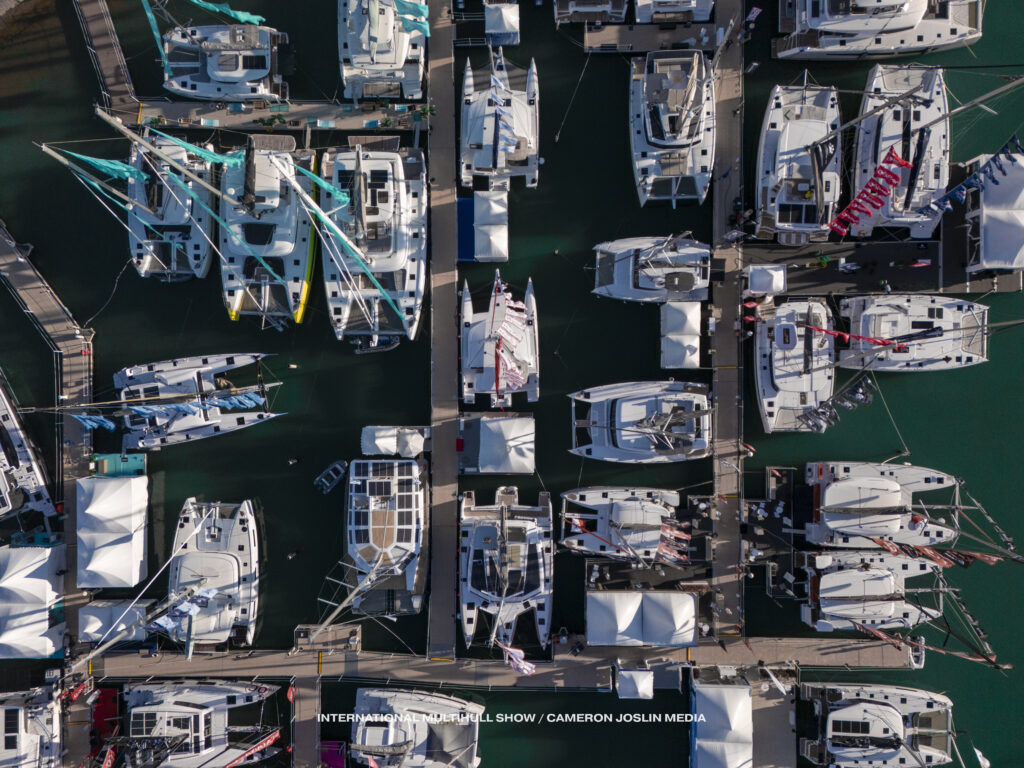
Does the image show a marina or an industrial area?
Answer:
marina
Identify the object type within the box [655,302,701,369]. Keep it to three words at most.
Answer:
tent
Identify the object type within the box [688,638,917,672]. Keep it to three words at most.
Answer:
pier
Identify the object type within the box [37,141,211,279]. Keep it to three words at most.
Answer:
boat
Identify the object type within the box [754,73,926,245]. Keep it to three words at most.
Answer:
boat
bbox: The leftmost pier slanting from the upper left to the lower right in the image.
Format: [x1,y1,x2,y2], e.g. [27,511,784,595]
[0,220,95,353]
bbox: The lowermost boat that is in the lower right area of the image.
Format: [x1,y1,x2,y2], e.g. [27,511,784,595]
[799,684,967,768]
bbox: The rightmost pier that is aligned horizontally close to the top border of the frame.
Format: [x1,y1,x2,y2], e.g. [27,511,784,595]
[584,24,716,54]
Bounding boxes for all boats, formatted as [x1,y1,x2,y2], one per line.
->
[456,486,553,662]
[308,459,348,497]
[0,370,60,533]
[632,15,735,200]
[757,297,900,432]
[267,136,432,341]
[805,463,1024,563]
[37,141,211,279]
[910,636,925,672]
[560,489,684,570]
[337,0,425,100]
[800,552,1021,671]
[87,684,285,768]
[349,333,399,354]
[64,498,256,677]
[799,684,967,768]
[592,229,719,306]
[568,380,728,463]
[138,0,289,99]
[91,103,320,323]
[0,686,60,768]
[837,293,1024,372]
[9,353,291,453]
[754,73,926,245]
[637,0,712,24]
[855,59,1024,238]
[340,690,483,768]
[295,459,427,653]
[555,0,627,24]
[771,0,986,59]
